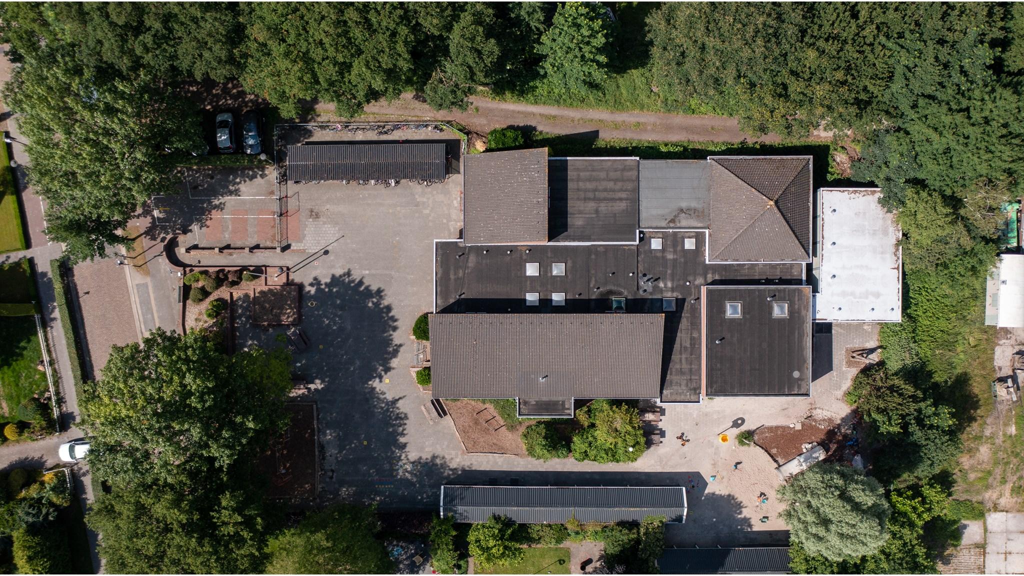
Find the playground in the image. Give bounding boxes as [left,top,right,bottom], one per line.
[151,126,882,542]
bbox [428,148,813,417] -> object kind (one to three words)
building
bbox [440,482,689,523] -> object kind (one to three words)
shed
